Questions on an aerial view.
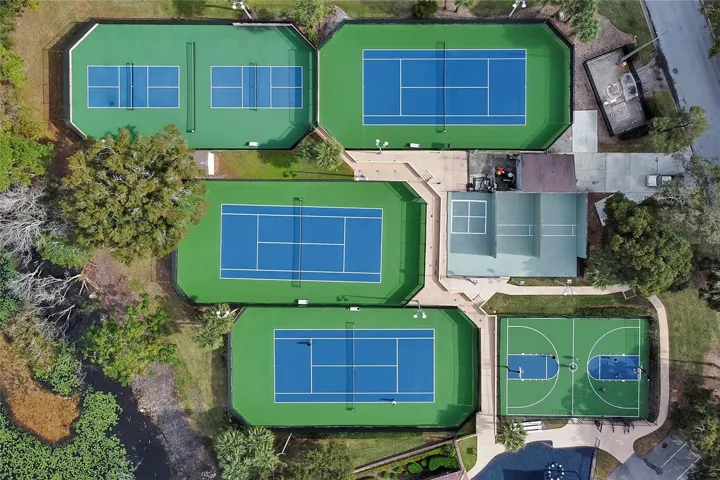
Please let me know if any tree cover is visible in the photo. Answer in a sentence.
Yes, tree cover shows up in the scene.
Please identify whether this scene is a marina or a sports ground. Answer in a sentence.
The area seen from above is a sports ground.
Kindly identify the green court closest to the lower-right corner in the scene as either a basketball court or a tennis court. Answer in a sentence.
In the photo, the green court closest to the lower-right corner shows up as a basketball court.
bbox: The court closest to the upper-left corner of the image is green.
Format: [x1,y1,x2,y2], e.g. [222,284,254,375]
[71,24,317,149]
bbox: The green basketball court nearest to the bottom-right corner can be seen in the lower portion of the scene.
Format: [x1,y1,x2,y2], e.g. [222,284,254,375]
[500,316,648,418]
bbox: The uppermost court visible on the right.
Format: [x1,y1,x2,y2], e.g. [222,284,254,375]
[319,22,571,150]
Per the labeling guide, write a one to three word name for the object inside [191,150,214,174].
shed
